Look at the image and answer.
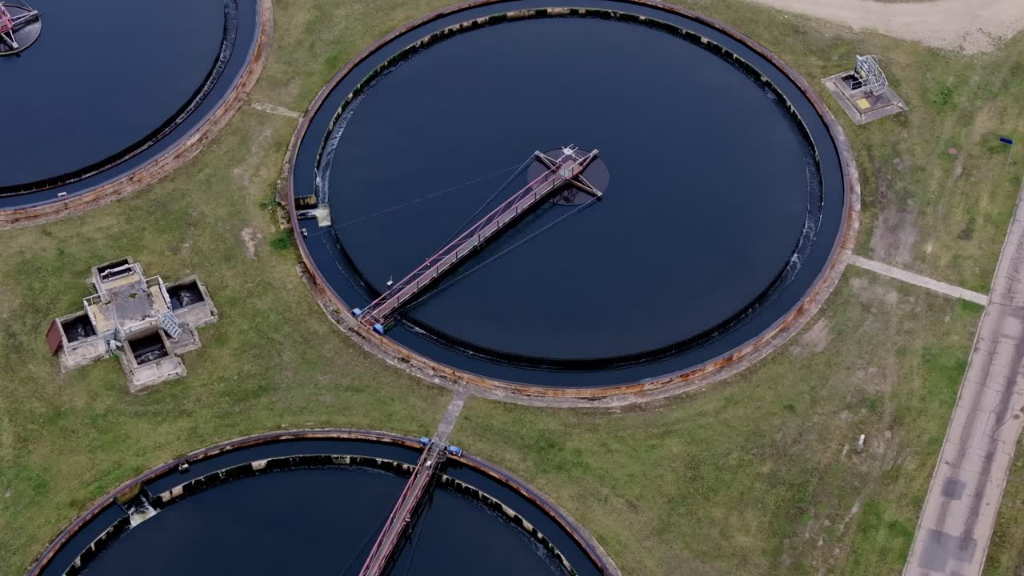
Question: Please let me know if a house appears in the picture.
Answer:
No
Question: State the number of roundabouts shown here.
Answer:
0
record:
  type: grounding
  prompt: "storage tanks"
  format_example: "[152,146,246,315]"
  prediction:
[21,427,622,576]
[276,0,861,408]
[0,0,276,228]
